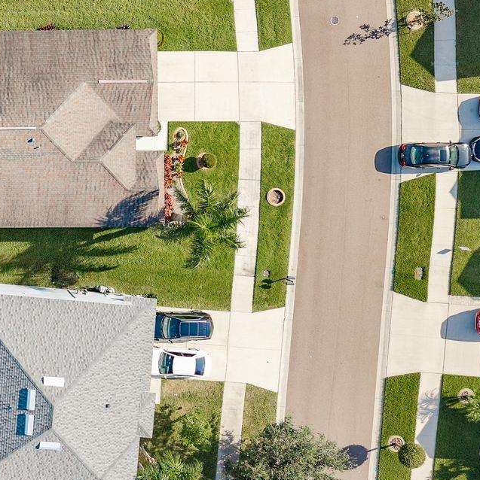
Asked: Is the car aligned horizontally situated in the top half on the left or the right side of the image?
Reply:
right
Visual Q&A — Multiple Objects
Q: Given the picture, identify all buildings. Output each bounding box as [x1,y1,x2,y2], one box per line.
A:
[0,281,158,480]
[0,29,166,228]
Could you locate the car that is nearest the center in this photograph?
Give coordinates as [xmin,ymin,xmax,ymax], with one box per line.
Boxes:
[153,309,216,345]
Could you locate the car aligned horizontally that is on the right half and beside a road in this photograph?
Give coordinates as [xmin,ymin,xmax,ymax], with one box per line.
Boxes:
[396,139,468,174]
